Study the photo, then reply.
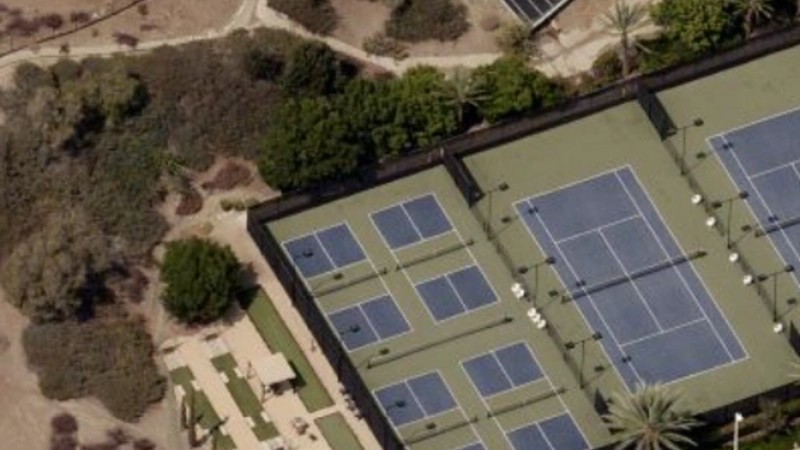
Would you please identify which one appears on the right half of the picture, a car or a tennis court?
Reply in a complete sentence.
Visible on the right half of the picture is a tennis court.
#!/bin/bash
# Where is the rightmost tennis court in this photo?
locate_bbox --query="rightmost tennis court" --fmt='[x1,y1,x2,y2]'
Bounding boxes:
[708,109,800,282]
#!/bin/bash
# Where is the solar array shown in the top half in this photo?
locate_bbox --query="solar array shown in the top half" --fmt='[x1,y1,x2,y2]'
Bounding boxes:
[494,0,573,34]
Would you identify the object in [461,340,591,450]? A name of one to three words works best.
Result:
sports court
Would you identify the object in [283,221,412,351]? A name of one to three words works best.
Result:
sports court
